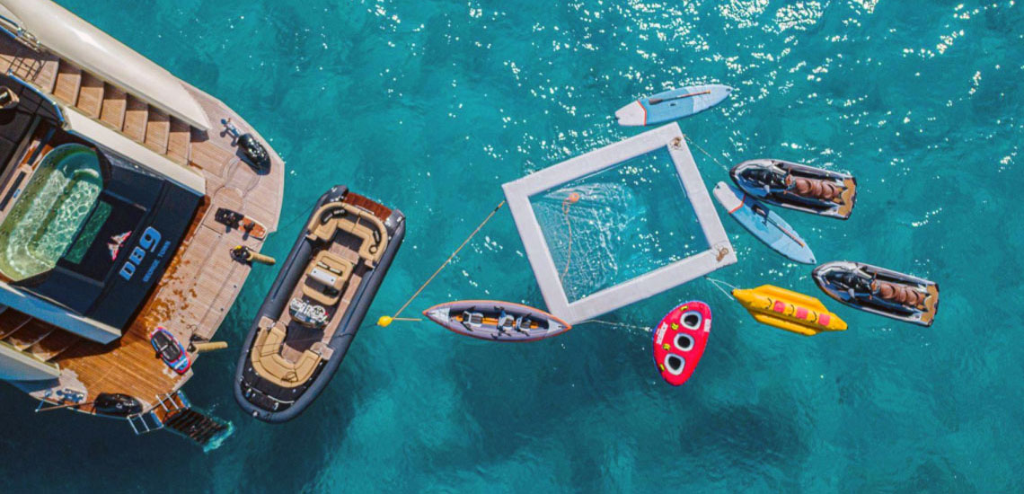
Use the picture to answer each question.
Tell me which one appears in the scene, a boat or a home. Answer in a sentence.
The image shows a boat.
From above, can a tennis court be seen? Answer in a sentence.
No, I can't see a single tennis court in this photo.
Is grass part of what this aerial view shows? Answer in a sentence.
No, the scene doesn't show any grass.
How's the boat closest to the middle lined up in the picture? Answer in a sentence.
In this picture, the boat closest to the middle lies from side to side.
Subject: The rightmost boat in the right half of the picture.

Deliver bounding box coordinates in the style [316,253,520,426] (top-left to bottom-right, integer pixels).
[801,262,936,325]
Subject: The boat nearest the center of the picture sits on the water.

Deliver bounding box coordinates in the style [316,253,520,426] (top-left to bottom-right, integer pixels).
[422,296,573,342]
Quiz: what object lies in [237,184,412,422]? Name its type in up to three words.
boat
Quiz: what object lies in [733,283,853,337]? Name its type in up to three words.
boat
